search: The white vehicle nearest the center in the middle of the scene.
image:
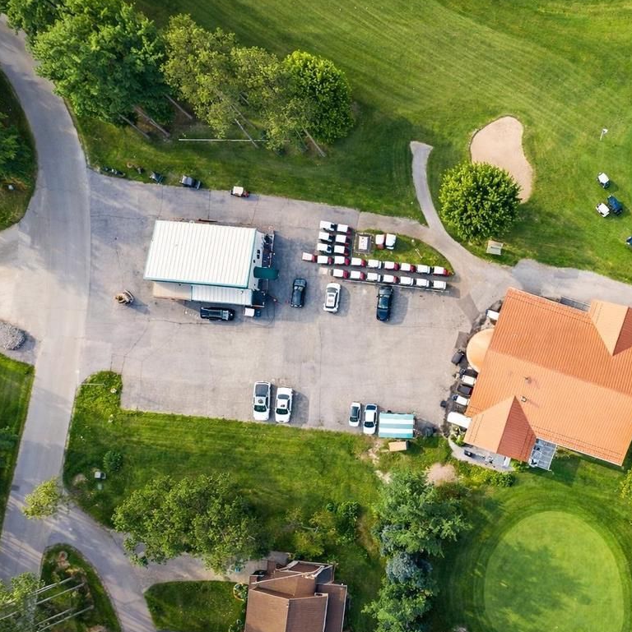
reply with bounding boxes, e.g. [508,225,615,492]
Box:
[324,283,342,315]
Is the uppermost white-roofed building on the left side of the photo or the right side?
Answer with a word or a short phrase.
left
